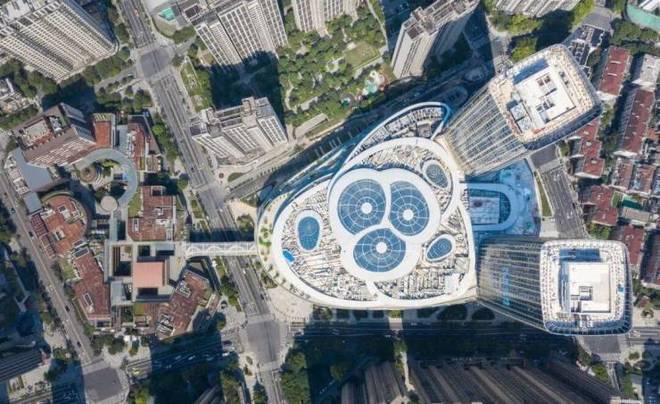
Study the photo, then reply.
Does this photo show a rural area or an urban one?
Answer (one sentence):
The land in this view is best described as urban.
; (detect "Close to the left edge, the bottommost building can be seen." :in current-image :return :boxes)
[0,342,46,389]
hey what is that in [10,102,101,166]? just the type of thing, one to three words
building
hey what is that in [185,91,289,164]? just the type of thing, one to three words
building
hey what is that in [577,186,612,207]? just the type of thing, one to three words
house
